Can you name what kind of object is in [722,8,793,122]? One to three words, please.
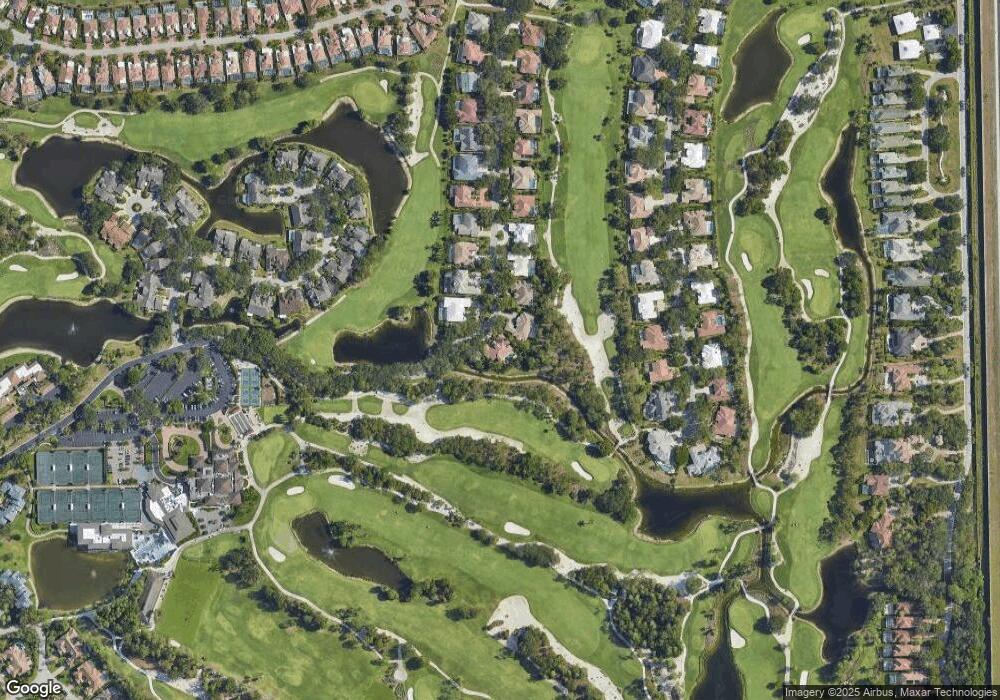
pond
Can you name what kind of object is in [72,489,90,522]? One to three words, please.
tennis court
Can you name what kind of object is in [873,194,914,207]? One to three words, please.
house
